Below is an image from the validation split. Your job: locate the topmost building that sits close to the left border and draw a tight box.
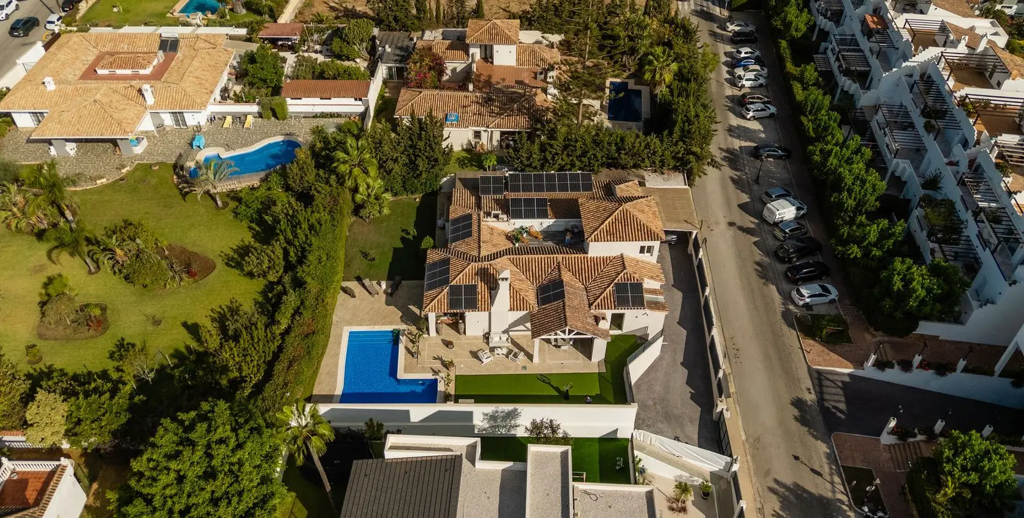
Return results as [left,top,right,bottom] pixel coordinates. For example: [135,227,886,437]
[0,30,235,142]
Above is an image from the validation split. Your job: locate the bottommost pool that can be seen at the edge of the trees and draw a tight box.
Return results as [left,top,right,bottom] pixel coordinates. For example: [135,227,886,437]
[337,328,438,401]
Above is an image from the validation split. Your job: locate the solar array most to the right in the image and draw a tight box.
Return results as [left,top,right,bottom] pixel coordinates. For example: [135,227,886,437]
[614,283,645,308]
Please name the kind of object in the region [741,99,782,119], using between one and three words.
car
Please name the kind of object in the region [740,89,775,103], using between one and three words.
car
